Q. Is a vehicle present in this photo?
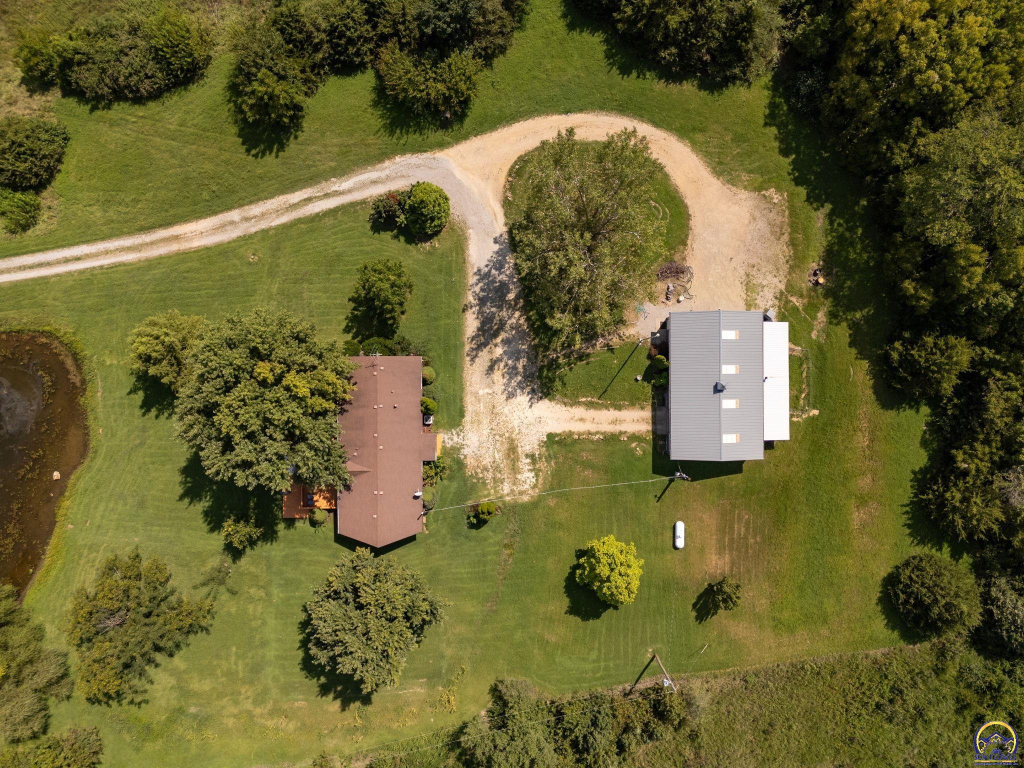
No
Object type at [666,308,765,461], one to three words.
barn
